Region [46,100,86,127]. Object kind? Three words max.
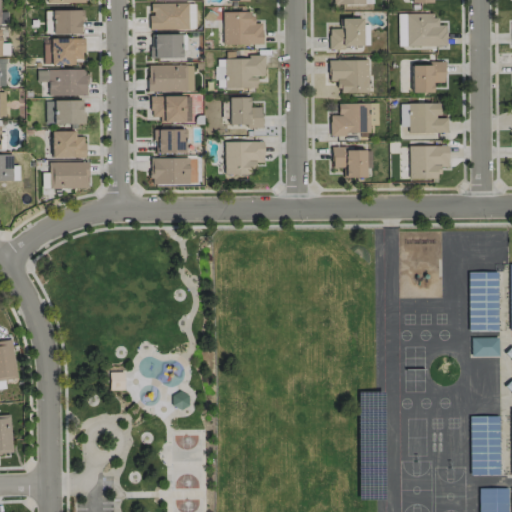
house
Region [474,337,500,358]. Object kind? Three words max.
building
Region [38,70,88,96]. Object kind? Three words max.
house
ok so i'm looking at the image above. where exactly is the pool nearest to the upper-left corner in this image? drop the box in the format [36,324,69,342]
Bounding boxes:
[8,66,20,86]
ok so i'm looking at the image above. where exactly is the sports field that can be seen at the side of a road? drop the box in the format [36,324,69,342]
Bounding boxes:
[217,230,377,512]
